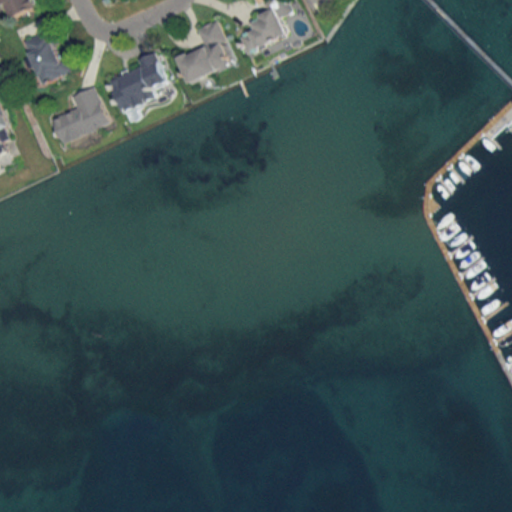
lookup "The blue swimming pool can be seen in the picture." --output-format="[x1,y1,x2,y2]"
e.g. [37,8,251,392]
[294,19,309,37]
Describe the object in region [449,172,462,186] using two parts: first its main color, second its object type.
white boat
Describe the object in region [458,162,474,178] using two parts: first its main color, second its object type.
white boat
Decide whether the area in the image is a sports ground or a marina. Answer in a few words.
marina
